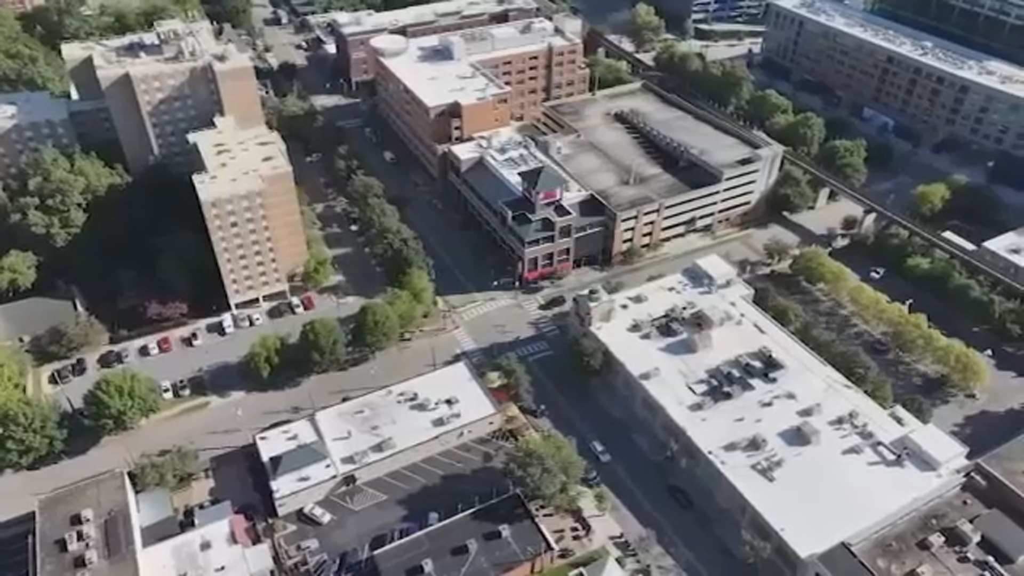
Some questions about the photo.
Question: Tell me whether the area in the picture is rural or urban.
urban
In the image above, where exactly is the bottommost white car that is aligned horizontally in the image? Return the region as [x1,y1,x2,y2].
[299,506,334,524]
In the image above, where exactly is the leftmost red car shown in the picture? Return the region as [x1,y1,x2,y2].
[158,335,171,354]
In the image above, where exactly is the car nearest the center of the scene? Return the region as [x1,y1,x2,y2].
[540,294,564,311]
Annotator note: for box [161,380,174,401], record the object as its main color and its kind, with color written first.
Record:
white vehicle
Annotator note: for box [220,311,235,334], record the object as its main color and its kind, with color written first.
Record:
white car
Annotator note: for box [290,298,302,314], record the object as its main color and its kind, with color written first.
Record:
white vehicle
